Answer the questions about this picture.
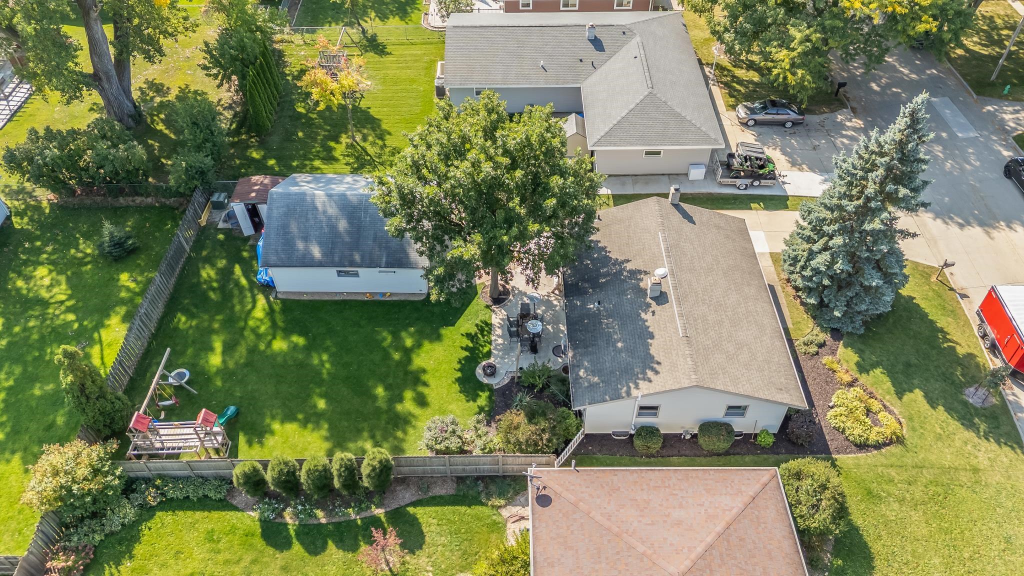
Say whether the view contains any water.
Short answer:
No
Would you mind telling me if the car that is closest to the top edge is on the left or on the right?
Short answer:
right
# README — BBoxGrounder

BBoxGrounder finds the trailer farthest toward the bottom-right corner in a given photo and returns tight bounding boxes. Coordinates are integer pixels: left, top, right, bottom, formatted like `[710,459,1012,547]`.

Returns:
[977,285,1024,363]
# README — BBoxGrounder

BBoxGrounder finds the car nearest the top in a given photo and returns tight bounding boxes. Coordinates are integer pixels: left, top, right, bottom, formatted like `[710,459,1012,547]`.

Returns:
[735,98,805,128]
